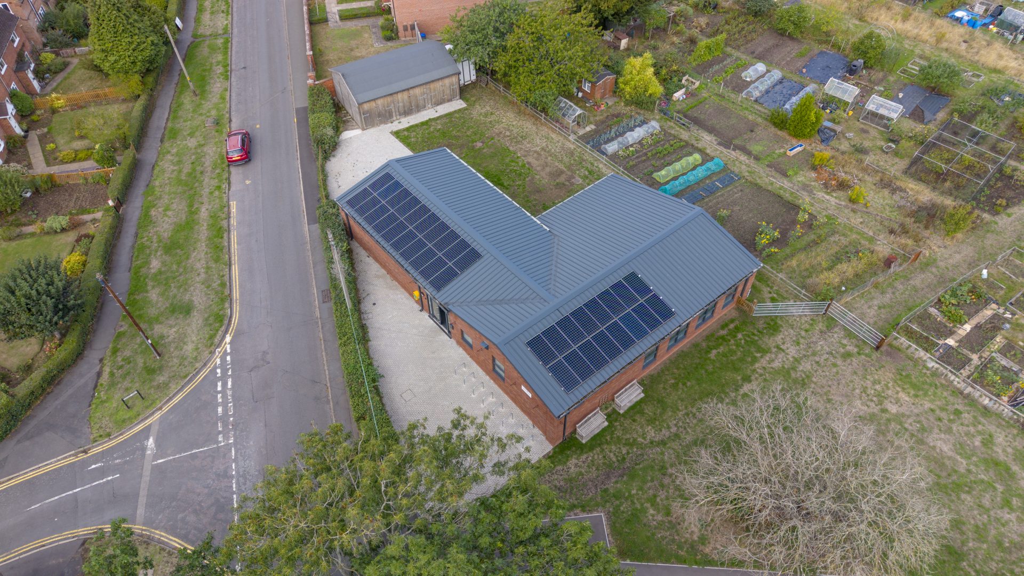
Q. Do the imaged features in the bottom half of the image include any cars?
No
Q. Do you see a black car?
No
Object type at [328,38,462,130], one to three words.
barn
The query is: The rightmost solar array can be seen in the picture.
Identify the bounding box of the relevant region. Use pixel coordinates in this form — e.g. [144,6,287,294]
[526,271,675,393]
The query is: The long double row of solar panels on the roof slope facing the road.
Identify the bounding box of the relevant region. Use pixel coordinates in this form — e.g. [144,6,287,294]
[347,172,481,291]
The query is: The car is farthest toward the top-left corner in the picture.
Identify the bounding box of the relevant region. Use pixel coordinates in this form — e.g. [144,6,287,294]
[220,123,251,161]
